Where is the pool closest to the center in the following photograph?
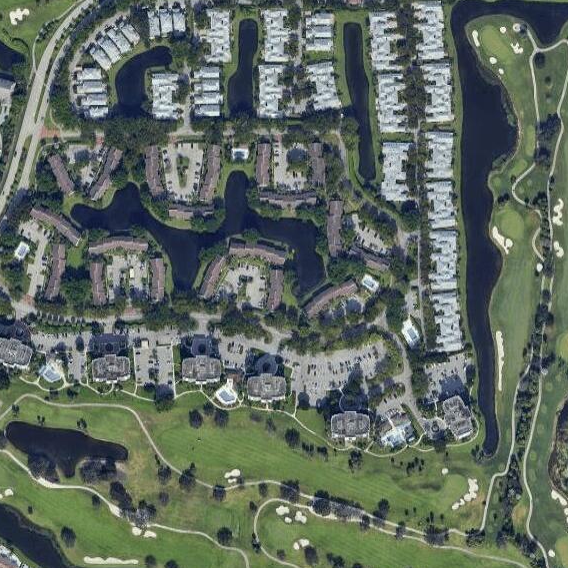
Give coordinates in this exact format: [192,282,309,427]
[362,274,381,291]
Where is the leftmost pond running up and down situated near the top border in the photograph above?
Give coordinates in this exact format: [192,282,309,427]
[227,20,258,116]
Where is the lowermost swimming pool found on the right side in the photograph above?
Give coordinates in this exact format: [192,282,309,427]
[378,422,414,448]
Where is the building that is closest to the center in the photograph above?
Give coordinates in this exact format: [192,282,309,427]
[266,270,282,312]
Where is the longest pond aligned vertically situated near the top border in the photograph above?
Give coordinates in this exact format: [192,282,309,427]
[345,23,375,180]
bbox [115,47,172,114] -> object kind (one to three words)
pond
